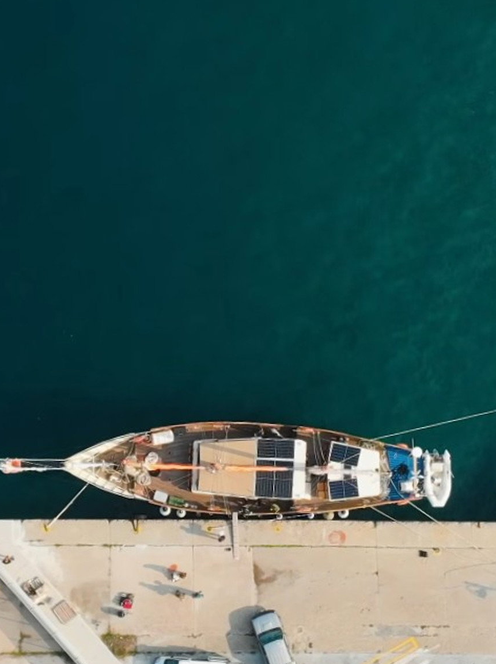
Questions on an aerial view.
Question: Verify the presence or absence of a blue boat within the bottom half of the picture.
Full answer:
No, there is no blue boat within the bottom half of the picture.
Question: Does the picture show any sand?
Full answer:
No, sand can't be seen anywhere here.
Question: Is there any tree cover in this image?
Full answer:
No, no tree cover is visible.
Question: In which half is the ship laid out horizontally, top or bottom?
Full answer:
Seen from above, the ship laid out horizontally lies in the bottom half of the view.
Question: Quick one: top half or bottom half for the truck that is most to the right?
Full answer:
Seen from above, the truck that is most to the right lies in the bottom half of the view.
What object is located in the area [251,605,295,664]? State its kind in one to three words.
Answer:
truck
